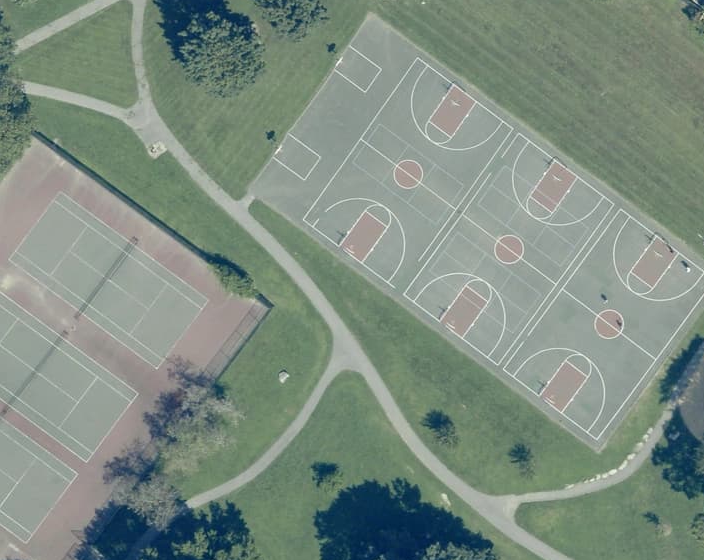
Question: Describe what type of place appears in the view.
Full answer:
It's a sports ground.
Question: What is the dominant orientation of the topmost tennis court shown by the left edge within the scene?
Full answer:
In this picture, the topmost tennis court shown by the left edge lies on a diagonal.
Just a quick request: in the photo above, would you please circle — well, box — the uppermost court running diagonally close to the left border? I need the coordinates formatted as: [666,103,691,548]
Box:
[9,192,208,368]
